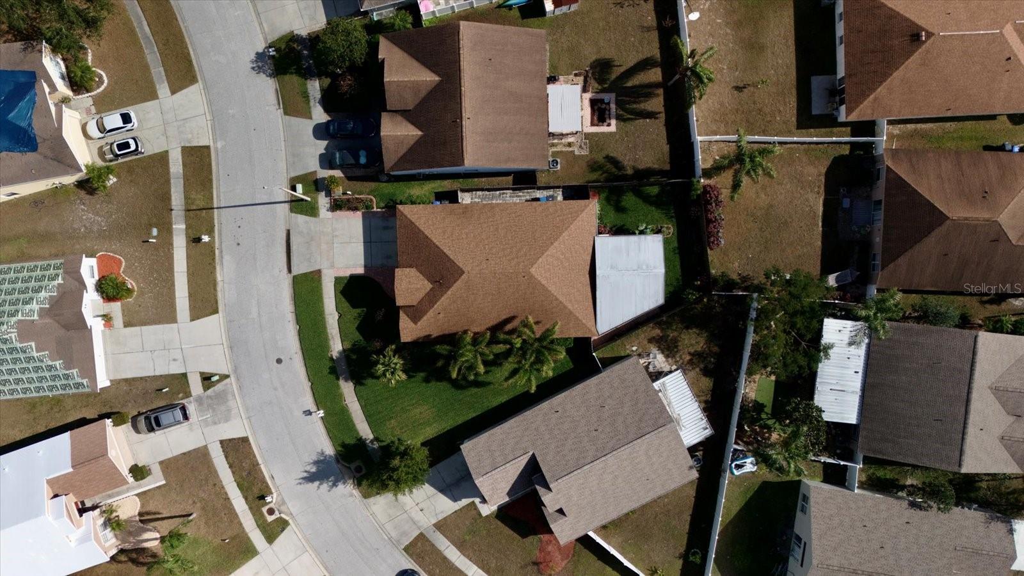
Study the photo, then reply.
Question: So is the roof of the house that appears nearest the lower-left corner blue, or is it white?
white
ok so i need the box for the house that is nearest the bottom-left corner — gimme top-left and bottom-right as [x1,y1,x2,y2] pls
[0,418,137,576]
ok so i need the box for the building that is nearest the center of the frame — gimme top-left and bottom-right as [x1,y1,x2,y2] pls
[394,199,665,342]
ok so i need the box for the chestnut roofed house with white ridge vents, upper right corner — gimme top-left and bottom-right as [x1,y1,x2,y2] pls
[833,0,1024,123]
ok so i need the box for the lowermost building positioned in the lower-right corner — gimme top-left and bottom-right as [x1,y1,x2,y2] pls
[790,481,1024,576]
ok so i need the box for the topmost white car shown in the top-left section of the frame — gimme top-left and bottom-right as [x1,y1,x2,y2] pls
[88,111,142,141]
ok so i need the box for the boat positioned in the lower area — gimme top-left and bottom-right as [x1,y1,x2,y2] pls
[729,456,756,474]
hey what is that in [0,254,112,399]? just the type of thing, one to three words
house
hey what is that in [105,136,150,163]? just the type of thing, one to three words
car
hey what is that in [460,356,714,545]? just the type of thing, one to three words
house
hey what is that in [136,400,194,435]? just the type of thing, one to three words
car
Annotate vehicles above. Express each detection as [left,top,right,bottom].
[136,400,194,435]
[330,145,382,170]
[88,111,142,141]
[105,136,150,163]
[326,115,380,140]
